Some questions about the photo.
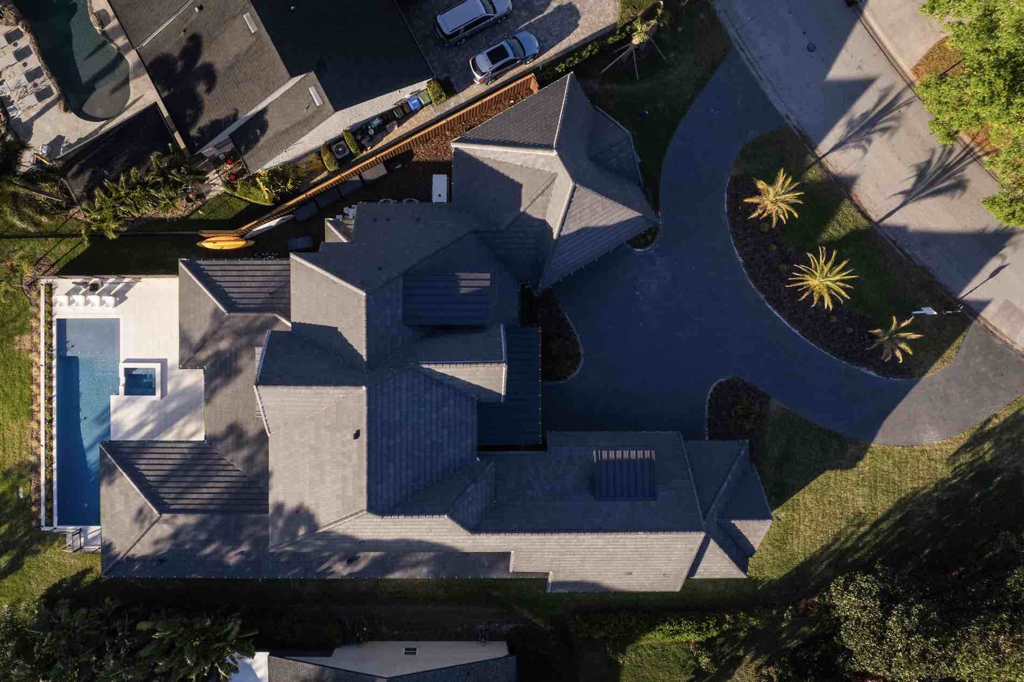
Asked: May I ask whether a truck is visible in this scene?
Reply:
No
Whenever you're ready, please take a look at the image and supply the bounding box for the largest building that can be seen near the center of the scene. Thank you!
[97,71,774,593]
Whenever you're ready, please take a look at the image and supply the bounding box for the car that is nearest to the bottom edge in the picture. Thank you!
[467,31,539,86]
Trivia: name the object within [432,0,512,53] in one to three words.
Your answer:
car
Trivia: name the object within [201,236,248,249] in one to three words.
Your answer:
boat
